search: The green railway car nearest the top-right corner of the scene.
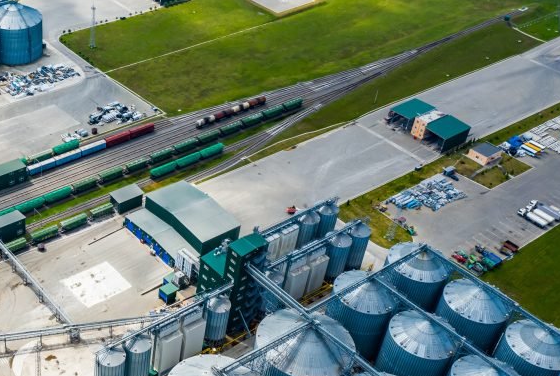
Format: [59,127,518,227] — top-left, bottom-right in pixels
[278,98,300,112]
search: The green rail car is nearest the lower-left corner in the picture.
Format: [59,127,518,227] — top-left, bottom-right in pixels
[0,236,28,256]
